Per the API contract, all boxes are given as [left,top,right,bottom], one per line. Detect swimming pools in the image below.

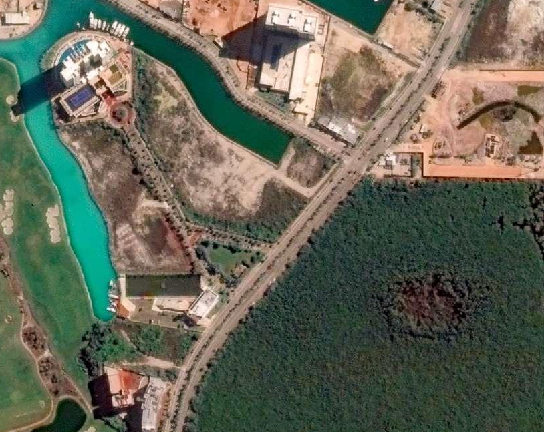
[53,36,105,68]
[270,47,281,70]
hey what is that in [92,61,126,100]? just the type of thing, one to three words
building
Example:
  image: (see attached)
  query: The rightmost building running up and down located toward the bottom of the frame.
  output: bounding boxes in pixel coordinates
[142,379,169,431]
